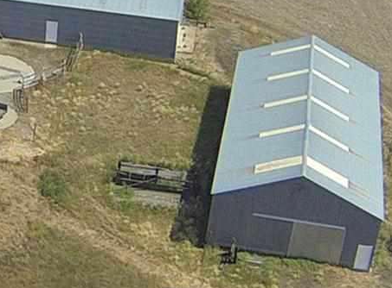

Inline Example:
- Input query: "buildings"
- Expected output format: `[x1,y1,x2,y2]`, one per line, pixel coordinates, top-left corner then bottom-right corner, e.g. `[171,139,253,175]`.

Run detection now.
[0,0,189,63]
[205,36,384,274]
